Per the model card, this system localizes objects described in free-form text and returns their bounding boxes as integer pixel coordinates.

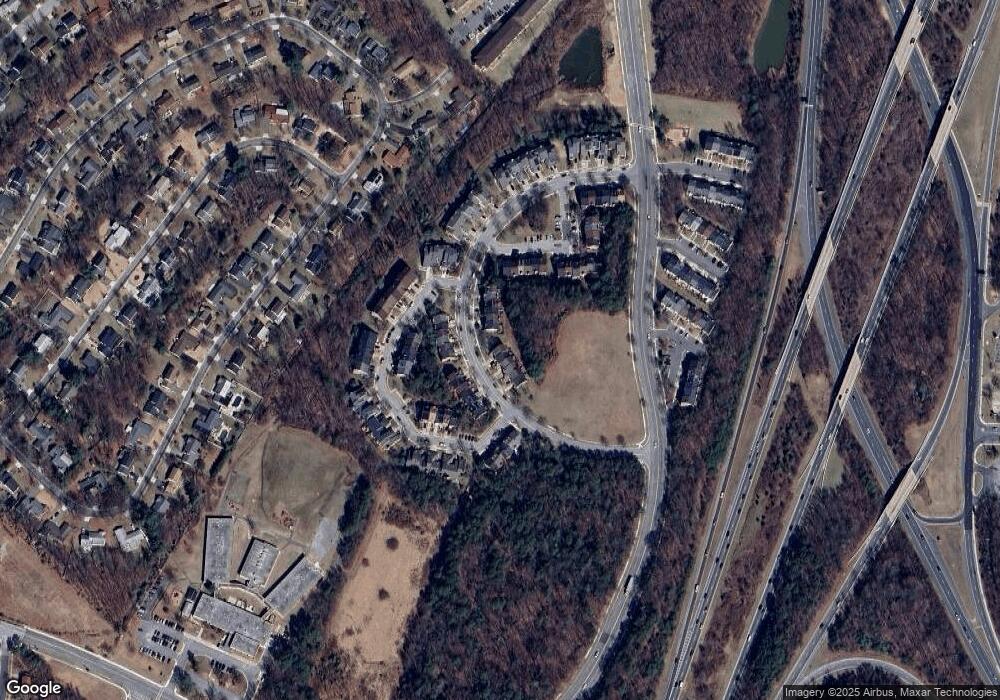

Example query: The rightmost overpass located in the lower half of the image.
[882,465,917,525]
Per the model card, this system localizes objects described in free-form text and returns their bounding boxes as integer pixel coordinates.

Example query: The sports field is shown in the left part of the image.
[262,428,346,519]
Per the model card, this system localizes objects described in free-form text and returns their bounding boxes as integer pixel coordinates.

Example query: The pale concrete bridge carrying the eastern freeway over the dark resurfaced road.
[929,98,960,168]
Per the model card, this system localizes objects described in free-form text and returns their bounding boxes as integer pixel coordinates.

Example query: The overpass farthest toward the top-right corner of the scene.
[892,5,928,78]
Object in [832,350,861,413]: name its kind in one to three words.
overpass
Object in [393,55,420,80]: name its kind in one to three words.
house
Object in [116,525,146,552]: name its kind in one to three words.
house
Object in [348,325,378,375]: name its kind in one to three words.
building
